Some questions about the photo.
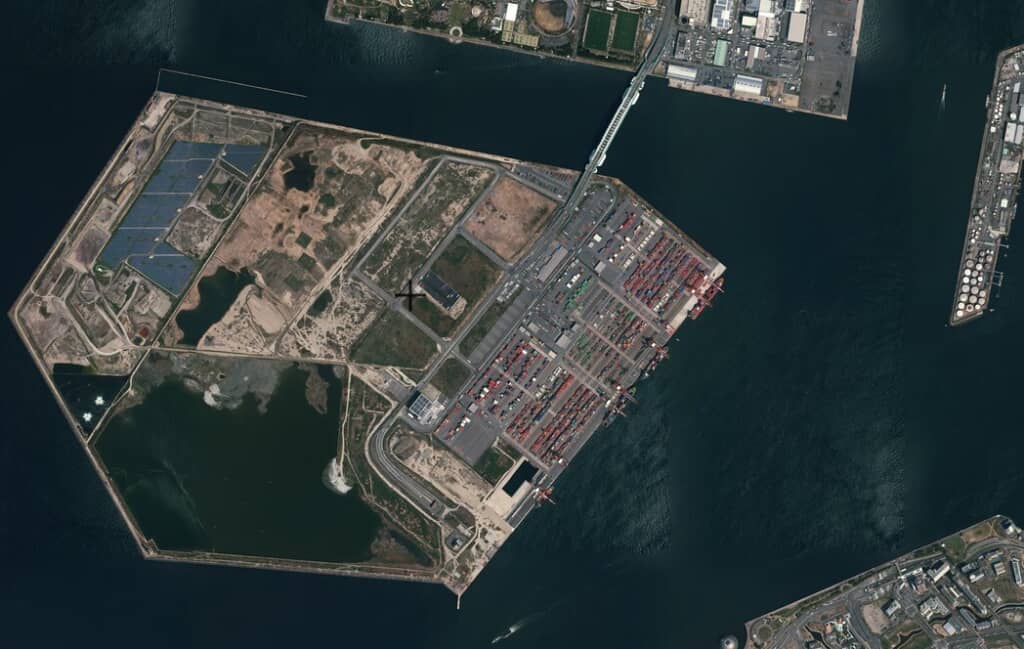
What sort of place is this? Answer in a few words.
port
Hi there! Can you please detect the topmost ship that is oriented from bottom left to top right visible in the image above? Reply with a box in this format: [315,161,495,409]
[690,277,724,319]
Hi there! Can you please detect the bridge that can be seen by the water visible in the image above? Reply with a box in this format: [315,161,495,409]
[522,0,676,256]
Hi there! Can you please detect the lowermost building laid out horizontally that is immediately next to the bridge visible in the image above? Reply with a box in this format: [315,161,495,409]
[667,64,697,80]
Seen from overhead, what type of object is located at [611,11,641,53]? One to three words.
soccer field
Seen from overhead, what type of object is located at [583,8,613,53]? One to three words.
soccer field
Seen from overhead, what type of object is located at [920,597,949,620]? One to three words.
building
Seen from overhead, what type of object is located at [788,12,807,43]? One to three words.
building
